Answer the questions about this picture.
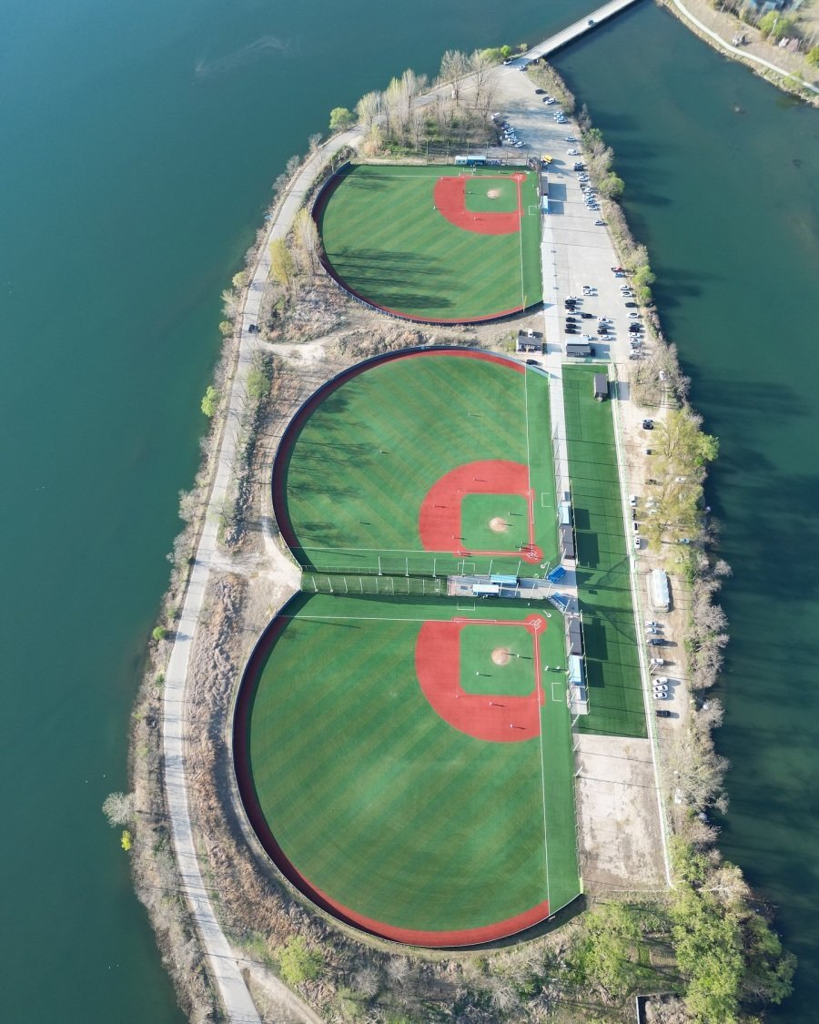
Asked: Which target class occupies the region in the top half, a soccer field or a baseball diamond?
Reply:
baseball diamond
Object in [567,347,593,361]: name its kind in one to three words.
building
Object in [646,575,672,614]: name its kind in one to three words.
greenhouse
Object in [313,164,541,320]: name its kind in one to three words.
baseball field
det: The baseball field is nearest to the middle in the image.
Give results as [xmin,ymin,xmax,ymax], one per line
[272,349,558,577]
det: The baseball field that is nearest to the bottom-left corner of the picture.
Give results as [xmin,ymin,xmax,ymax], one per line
[234,592,581,948]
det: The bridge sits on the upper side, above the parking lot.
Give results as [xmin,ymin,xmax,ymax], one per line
[527,0,640,58]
